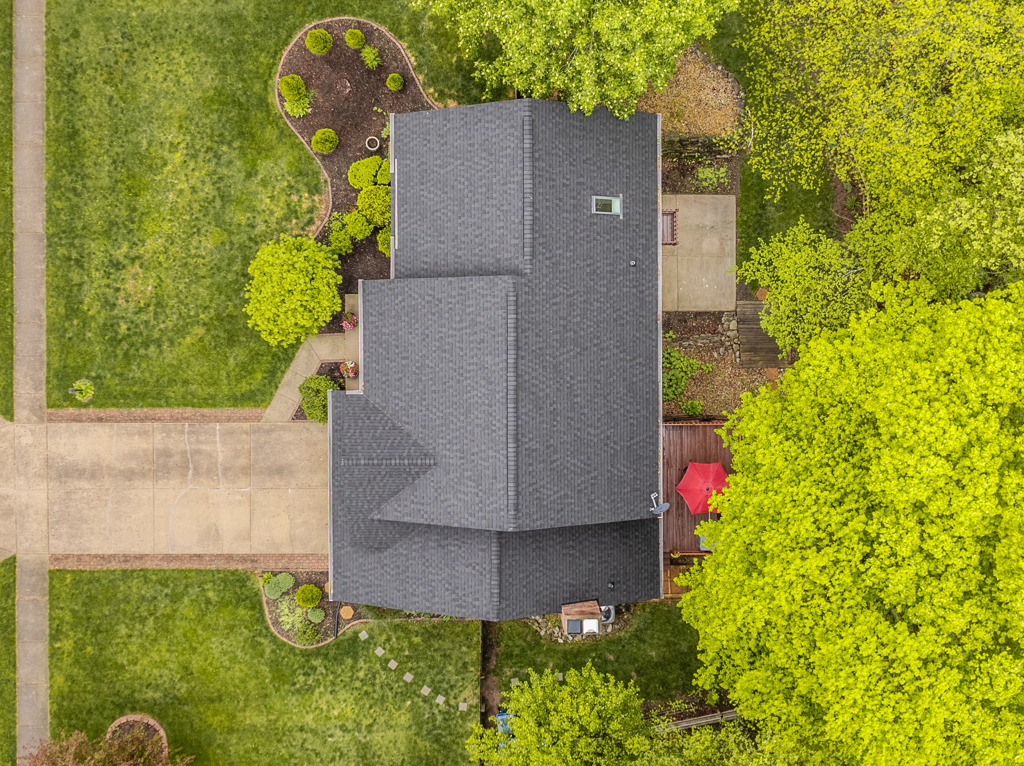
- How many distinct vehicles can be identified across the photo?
0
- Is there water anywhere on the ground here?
No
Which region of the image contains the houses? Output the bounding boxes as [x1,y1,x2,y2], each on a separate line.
[329,98,663,635]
